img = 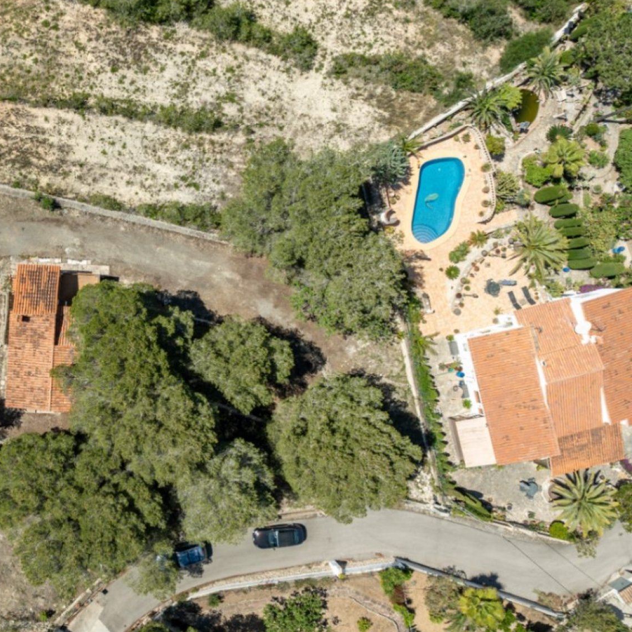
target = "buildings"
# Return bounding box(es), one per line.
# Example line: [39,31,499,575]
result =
[444,277,632,476]
[593,564,632,606]
[5,257,110,414]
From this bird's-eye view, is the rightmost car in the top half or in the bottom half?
bottom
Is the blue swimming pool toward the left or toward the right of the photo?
right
